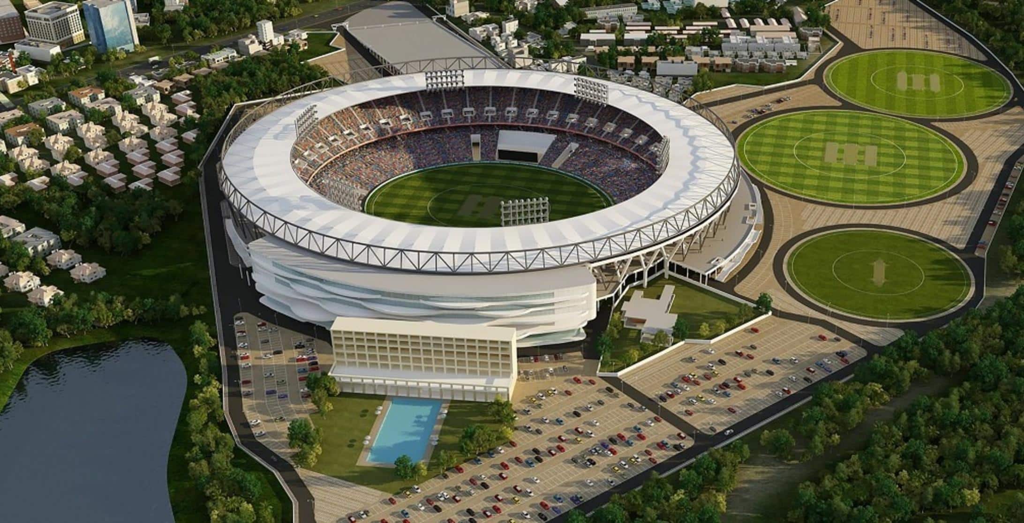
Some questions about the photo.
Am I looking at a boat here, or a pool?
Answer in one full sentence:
It is a pool that can be seen here.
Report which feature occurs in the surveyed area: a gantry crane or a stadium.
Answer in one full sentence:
Looking from above, you can make out a stadium.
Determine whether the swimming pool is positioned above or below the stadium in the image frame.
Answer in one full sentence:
The swimming pool appears below the stadium in the picture.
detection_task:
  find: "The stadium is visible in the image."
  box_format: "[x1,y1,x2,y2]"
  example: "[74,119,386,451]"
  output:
[218,54,746,297]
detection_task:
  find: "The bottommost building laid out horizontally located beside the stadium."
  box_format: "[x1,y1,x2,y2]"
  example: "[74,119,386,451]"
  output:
[325,316,516,399]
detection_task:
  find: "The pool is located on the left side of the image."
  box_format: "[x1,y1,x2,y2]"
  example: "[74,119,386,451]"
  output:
[356,396,452,467]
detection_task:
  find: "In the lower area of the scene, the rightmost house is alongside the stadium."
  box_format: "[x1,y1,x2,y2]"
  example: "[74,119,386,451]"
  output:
[621,285,678,346]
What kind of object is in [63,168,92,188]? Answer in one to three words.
house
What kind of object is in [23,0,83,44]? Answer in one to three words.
building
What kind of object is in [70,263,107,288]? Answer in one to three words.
house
